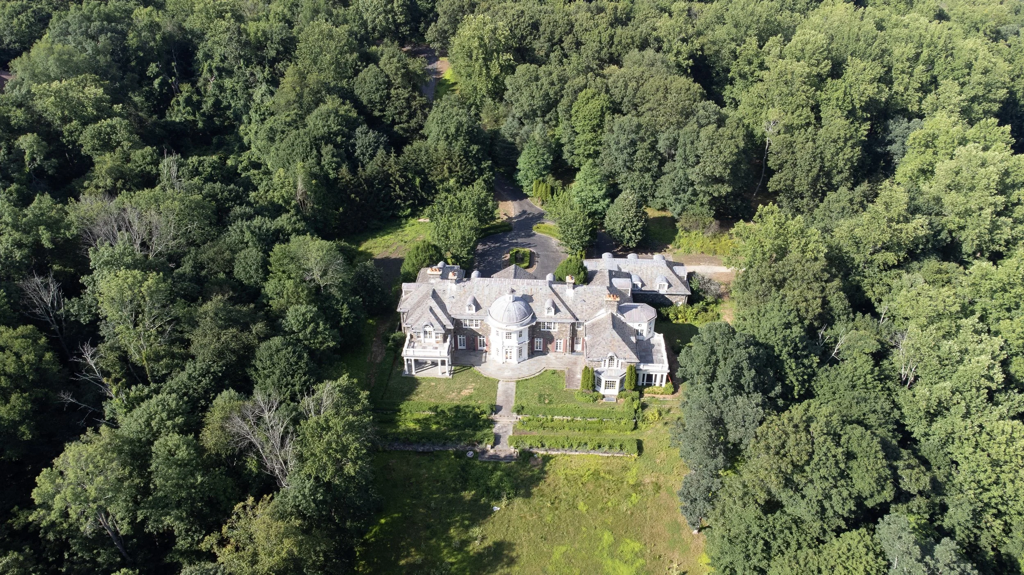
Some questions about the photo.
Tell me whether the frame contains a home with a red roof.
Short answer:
No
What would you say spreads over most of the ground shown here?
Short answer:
trees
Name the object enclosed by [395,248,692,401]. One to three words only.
house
